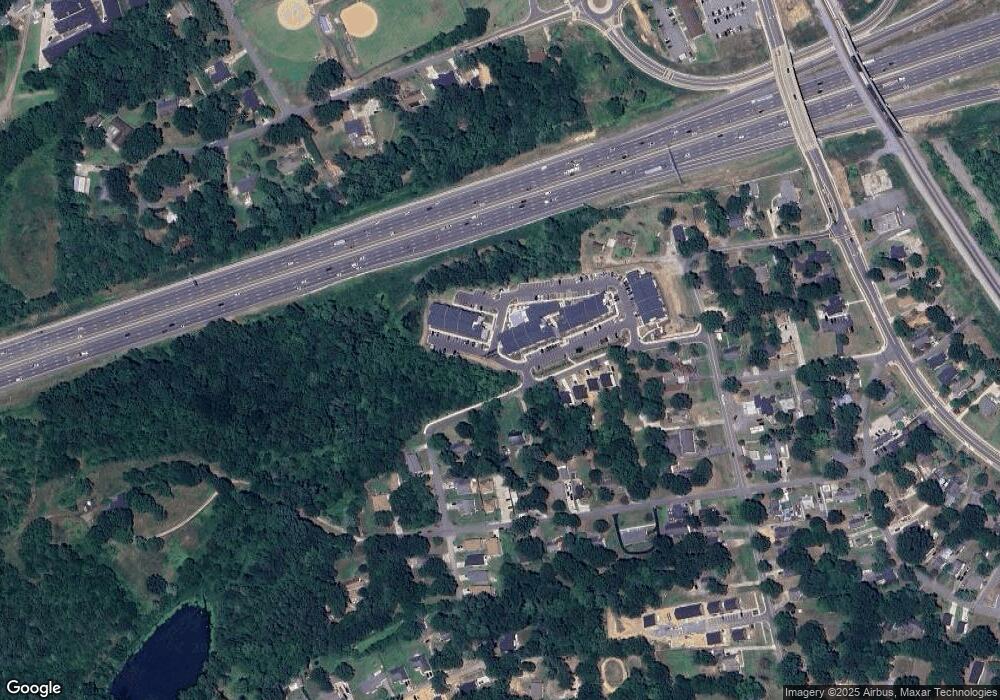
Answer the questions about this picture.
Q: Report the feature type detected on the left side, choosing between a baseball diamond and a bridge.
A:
baseball diamond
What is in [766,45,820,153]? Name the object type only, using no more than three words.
overpass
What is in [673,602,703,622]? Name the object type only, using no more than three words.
house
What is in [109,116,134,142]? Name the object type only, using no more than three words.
house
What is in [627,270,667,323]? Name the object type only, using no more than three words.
building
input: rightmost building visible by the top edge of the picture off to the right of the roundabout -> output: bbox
[675,0,705,38]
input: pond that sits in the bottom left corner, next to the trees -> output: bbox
[109,604,212,700]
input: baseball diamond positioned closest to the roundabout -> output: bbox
[341,0,466,76]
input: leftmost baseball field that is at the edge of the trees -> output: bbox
[236,0,322,62]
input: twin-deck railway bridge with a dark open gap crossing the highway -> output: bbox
[827,22,909,149]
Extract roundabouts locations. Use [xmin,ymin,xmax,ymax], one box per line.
[578,0,622,22]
